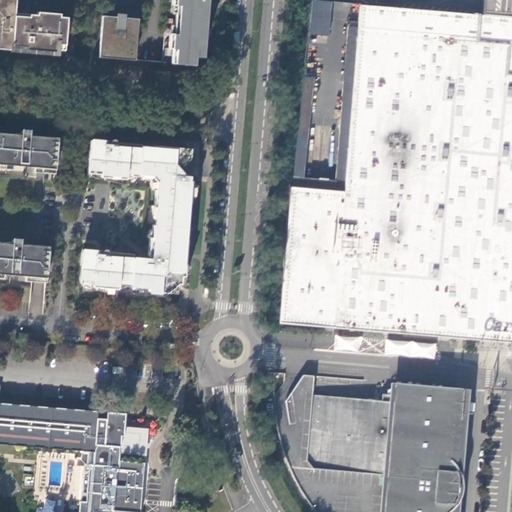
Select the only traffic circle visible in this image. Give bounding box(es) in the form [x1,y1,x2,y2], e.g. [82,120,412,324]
[196,309,262,386]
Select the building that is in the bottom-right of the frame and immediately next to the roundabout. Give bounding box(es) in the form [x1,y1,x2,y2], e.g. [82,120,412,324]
[274,374,476,512]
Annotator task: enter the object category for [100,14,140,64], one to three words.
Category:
building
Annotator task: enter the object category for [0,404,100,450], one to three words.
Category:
building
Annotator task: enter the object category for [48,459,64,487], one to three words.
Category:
swimming pool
